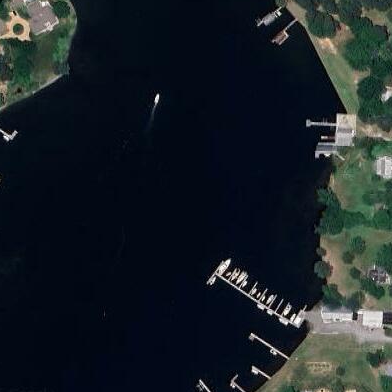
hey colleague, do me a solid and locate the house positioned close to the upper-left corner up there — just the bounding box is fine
[27,0,58,34]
